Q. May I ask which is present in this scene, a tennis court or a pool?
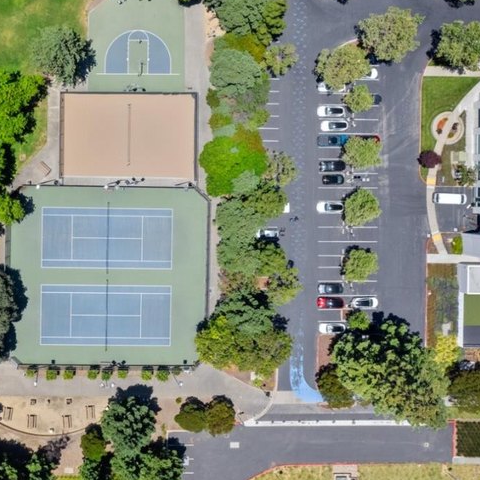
tennis court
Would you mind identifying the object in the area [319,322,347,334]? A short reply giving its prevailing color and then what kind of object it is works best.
white vehicle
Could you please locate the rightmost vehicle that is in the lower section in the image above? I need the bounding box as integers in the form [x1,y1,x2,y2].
[350,297,378,309]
